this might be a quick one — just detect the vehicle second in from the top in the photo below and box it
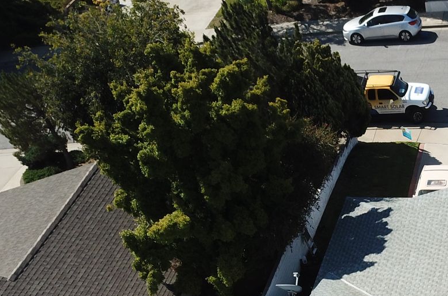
[325,65,437,123]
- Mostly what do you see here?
trees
